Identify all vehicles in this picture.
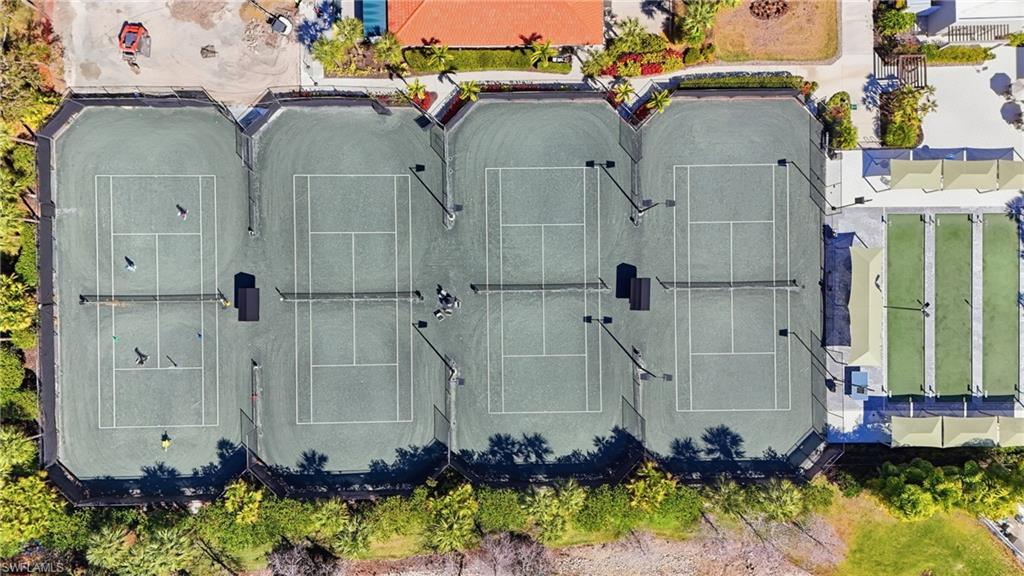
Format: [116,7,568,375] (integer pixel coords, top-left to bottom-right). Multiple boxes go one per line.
[243,5,300,43]
[121,22,154,78]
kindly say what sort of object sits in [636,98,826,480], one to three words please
tennis court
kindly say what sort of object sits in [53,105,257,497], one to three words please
tennis court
